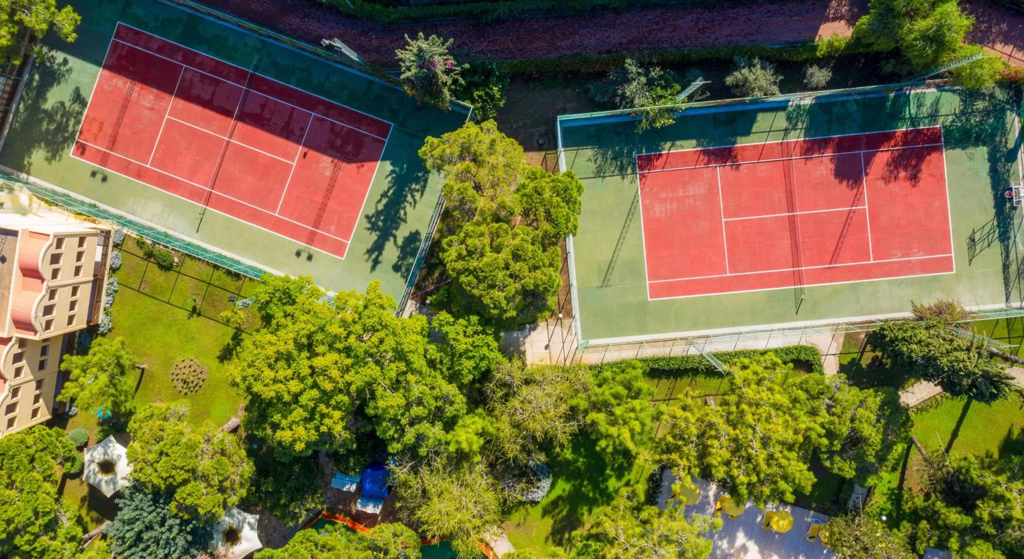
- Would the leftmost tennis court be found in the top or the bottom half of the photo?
top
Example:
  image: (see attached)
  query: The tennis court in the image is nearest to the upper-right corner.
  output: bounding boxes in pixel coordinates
[556,78,1024,347]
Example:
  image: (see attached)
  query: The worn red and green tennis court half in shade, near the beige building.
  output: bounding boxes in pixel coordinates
[0,0,475,318]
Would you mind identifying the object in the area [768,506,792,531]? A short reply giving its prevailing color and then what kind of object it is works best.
yellow umbrella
